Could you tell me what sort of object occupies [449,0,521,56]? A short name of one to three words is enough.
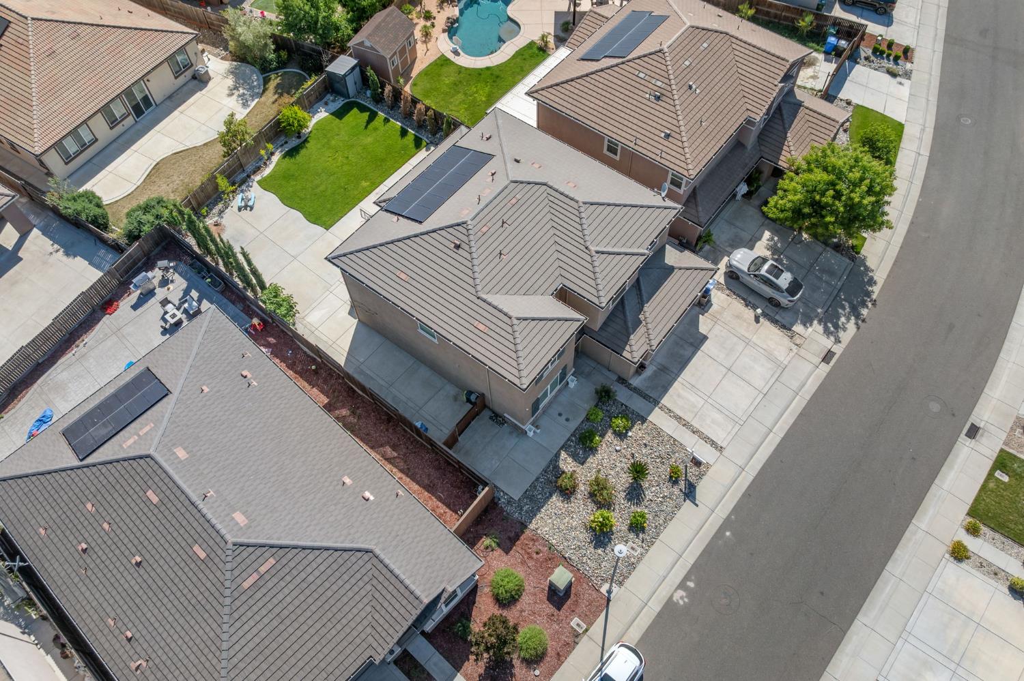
swimming pool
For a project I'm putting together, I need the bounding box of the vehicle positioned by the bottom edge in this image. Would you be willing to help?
[580,639,646,681]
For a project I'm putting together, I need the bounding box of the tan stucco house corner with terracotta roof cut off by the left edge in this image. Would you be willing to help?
[0,178,38,243]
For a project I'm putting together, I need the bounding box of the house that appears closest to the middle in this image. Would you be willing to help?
[326,108,722,435]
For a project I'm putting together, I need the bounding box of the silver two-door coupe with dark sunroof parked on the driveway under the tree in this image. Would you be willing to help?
[724,250,808,313]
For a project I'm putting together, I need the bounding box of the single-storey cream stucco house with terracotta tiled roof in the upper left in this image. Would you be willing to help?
[0,0,206,178]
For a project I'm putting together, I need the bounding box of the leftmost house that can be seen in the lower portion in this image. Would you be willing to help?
[0,302,485,681]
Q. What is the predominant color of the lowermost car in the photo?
white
